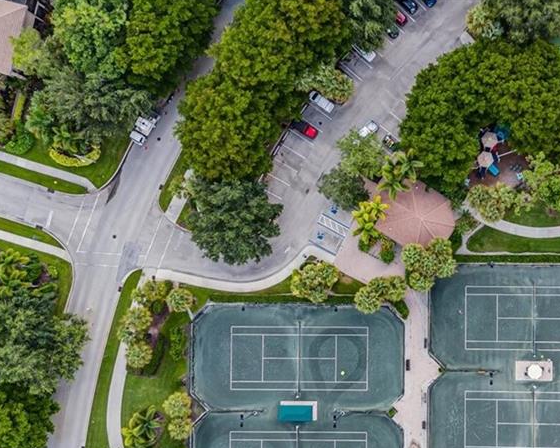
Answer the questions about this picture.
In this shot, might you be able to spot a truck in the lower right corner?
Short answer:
No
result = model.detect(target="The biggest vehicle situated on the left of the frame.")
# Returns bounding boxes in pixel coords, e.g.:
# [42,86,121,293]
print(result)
[130,111,160,149]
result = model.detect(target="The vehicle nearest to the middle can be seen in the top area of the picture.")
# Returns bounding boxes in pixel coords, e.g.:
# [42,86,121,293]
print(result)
[290,119,318,140]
